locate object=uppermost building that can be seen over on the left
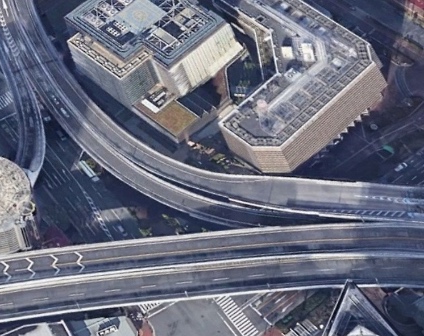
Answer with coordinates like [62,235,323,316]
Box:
[65,0,241,143]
